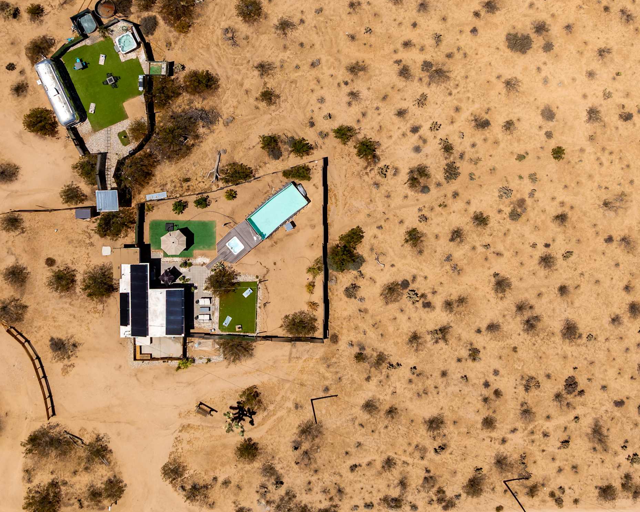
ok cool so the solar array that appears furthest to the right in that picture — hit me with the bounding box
[166,290,184,335]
